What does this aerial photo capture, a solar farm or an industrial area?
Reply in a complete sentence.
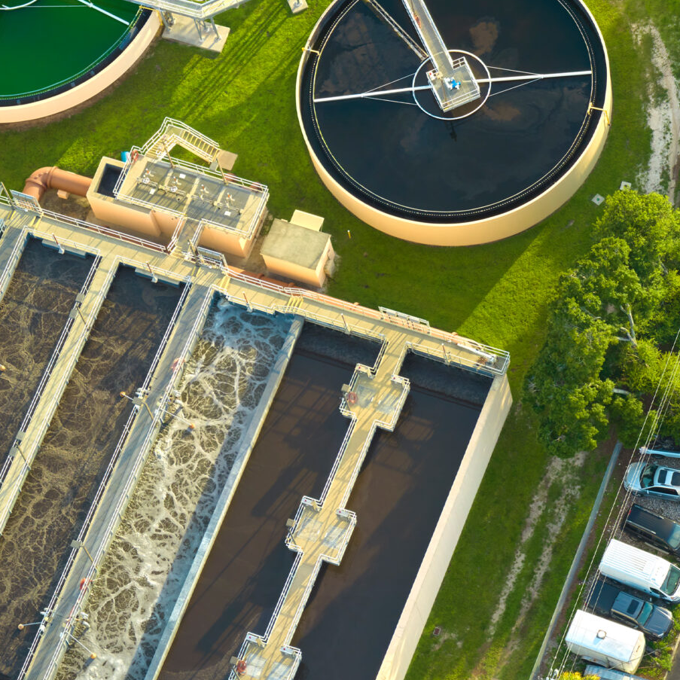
What you see here is an industrial area.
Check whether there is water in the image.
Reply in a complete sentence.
Yes, some water is visible.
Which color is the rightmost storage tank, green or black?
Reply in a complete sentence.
The color of the rightmost storage tank is black.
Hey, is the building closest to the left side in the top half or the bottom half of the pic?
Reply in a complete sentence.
The building closest to the left side is in the top half of the image.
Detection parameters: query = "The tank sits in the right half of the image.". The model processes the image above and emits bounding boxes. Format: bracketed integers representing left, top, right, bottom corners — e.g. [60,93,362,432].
[295,0,613,245]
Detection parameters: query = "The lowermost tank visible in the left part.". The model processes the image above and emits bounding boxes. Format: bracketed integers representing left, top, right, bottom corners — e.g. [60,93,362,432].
[87,163,162,237]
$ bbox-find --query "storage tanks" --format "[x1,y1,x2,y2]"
[87,163,162,237]
[295,0,613,245]
[0,0,167,125]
